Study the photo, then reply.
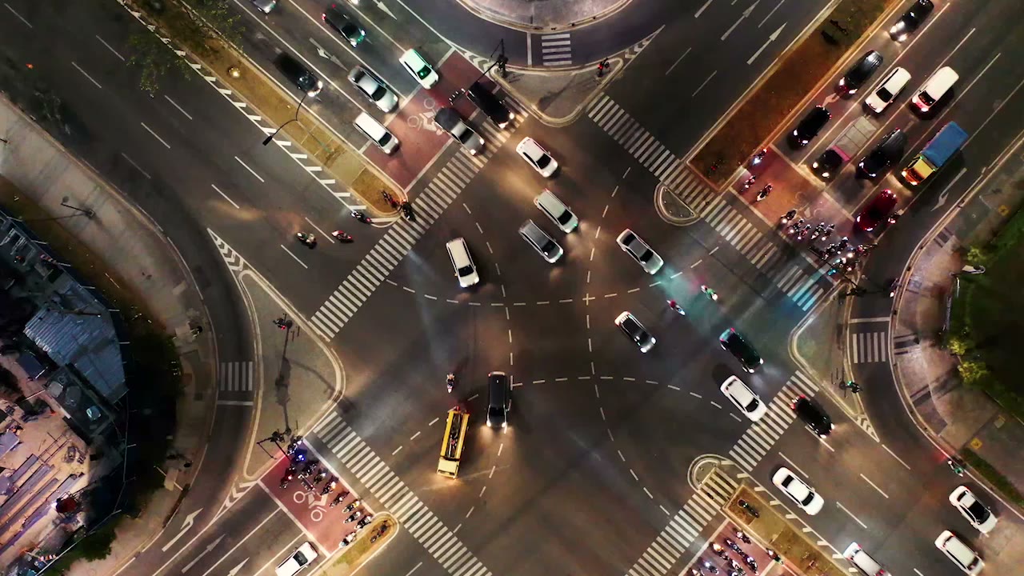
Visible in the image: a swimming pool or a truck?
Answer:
truck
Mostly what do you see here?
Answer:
paved ground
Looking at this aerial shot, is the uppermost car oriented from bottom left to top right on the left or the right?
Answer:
right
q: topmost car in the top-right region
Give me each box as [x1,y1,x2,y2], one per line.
[887,0,935,42]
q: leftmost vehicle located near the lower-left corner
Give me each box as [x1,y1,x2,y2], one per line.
[53,489,103,518]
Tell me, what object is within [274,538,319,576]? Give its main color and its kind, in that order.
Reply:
white car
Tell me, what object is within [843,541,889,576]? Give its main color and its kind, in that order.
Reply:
white car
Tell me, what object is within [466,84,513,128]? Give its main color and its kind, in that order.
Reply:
black car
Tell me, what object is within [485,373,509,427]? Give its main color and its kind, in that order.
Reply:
black car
